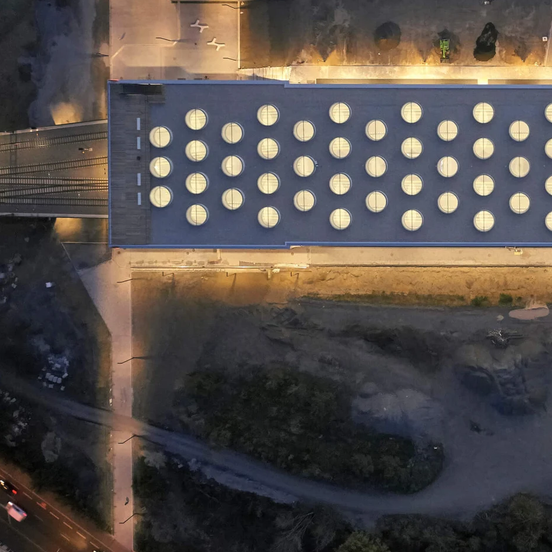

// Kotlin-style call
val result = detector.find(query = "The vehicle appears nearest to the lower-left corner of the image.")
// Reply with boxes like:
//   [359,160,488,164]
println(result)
[2,504,25,521]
